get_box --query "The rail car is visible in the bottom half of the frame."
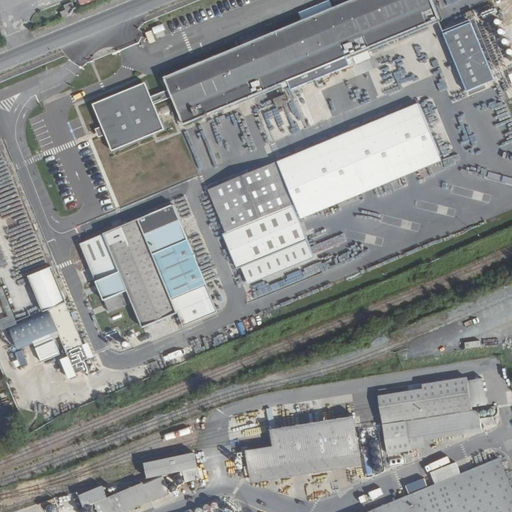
[162,427,192,440]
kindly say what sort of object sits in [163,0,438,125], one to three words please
building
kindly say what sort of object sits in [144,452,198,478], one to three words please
building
